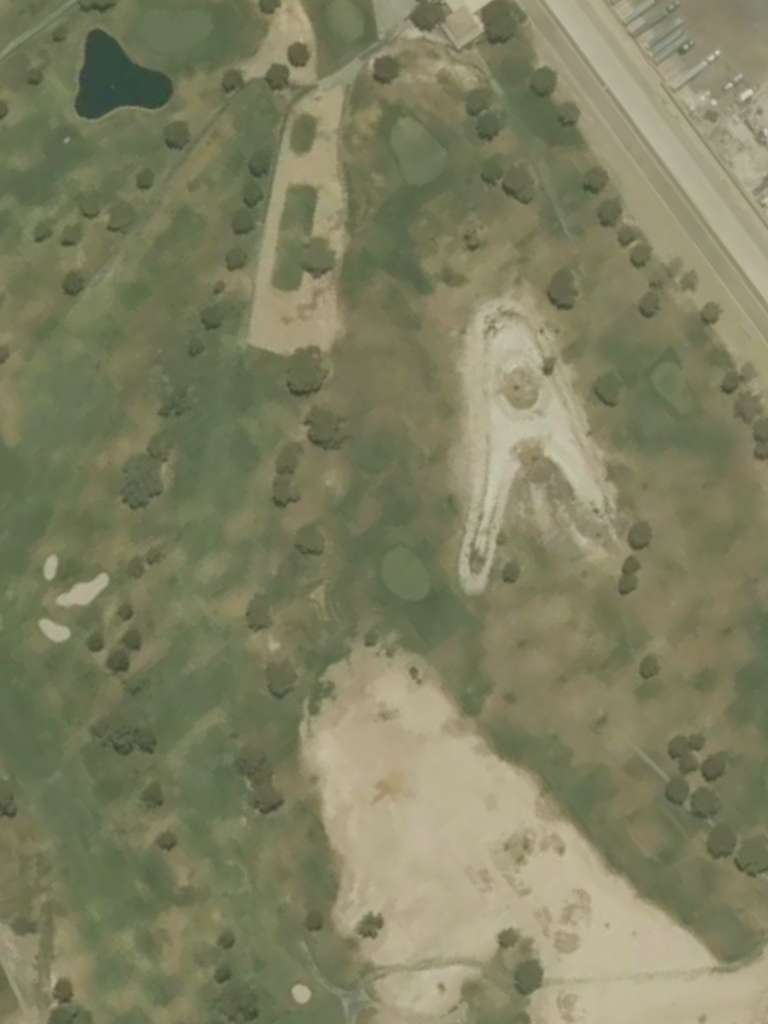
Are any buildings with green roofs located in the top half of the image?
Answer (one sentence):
No, in the top half of the image there is no building with a green roof.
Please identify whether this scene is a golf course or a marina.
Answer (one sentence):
The picture captures a golf course.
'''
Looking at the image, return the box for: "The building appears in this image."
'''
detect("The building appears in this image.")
[441,4,485,49]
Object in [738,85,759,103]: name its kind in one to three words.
vehicle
